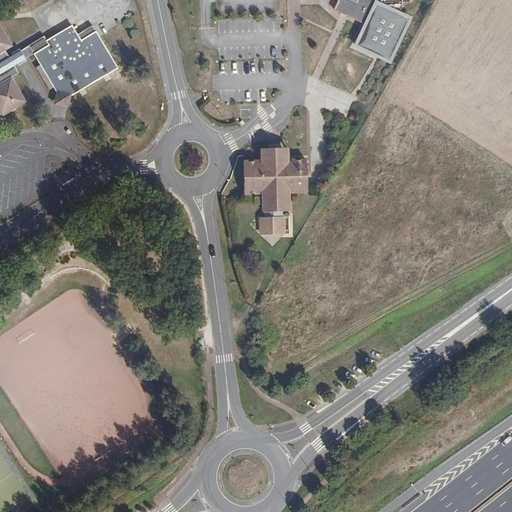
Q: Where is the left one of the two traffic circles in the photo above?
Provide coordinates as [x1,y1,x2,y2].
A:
[154,121,230,198]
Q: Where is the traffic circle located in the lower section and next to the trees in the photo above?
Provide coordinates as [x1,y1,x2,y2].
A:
[194,426,297,512]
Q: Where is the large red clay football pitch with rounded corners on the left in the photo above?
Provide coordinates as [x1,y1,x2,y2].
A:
[0,289,151,487]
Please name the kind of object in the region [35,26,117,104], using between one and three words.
building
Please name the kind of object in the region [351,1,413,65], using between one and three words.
building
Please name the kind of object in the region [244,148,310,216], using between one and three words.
house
